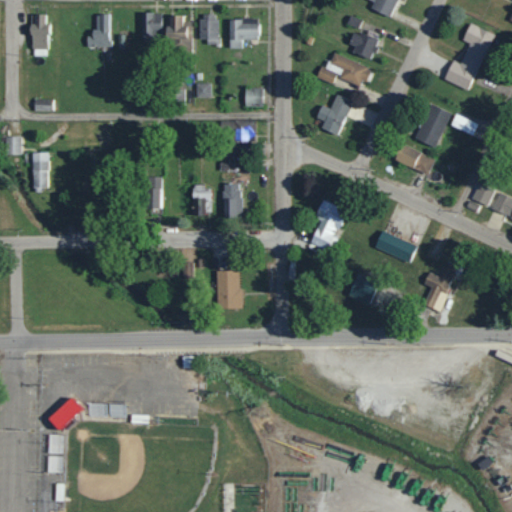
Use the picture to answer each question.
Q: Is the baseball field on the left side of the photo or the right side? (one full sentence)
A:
You can find the baseball field on the left side of the picture.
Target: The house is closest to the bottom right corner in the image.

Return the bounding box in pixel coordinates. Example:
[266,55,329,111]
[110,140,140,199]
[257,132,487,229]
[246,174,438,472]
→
[426,272,454,311]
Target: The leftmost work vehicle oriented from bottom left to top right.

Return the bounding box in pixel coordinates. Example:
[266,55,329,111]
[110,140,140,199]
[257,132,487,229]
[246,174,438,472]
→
[351,456,366,472]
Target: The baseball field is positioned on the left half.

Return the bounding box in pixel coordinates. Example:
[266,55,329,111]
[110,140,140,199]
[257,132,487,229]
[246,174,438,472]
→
[68,424,218,512]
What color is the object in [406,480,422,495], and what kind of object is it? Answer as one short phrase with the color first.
green work vehicle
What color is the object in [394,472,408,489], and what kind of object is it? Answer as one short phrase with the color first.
green work vehicle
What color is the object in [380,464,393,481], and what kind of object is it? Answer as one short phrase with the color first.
green vehicle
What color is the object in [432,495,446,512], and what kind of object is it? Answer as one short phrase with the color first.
green vehicle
